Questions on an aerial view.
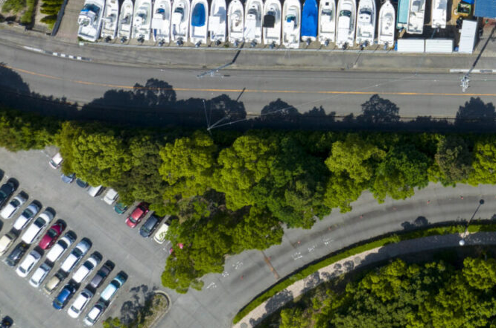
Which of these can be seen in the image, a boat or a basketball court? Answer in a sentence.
The one in the frame is a boat.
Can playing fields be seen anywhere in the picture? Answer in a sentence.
No, there's no playing field here.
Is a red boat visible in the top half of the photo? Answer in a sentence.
No, no red boat appears in the top half of the photo.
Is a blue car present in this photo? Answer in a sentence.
Yes, the image includes a blue car.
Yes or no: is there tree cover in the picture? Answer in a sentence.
Yes, the picture does contain tree cover.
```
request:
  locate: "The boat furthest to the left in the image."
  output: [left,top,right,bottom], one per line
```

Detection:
[75,0,107,41]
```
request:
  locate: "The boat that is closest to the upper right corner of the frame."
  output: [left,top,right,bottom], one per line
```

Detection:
[432,0,447,33]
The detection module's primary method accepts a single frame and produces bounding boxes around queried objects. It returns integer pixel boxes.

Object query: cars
[21,211,56,245]
[102,273,130,305]
[86,173,114,202]
[137,216,164,237]
[102,180,124,206]
[88,261,117,291]
[113,203,128,215]
[152,218,178,244]
[6,241,34,269]
[47,148,61,171]
[28,259,56,289]
[126,204,149,228]
[73,252,104,284]
[53,280,79,309]
[0,180,20,212]
[61,239,93,272]
[38,220,68,251]
[47,230,78,262]
[1,191,31,221]
[68,286,97,317]
[17,247,45,277]
[0,223,7,237]
[83,297,109,325]
[0,233,18,258]
[44,270,68,295]
[12,201,44,232]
